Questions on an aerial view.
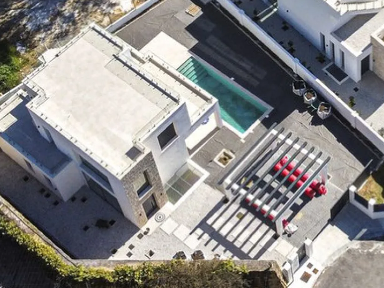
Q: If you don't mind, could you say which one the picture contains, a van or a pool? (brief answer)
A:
pool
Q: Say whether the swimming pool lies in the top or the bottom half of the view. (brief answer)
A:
top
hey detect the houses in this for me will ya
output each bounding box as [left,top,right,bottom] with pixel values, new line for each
[268,0,384,80]
[0,20,221,227]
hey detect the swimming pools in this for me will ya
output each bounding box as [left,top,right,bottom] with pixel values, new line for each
[173,52,278,145]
